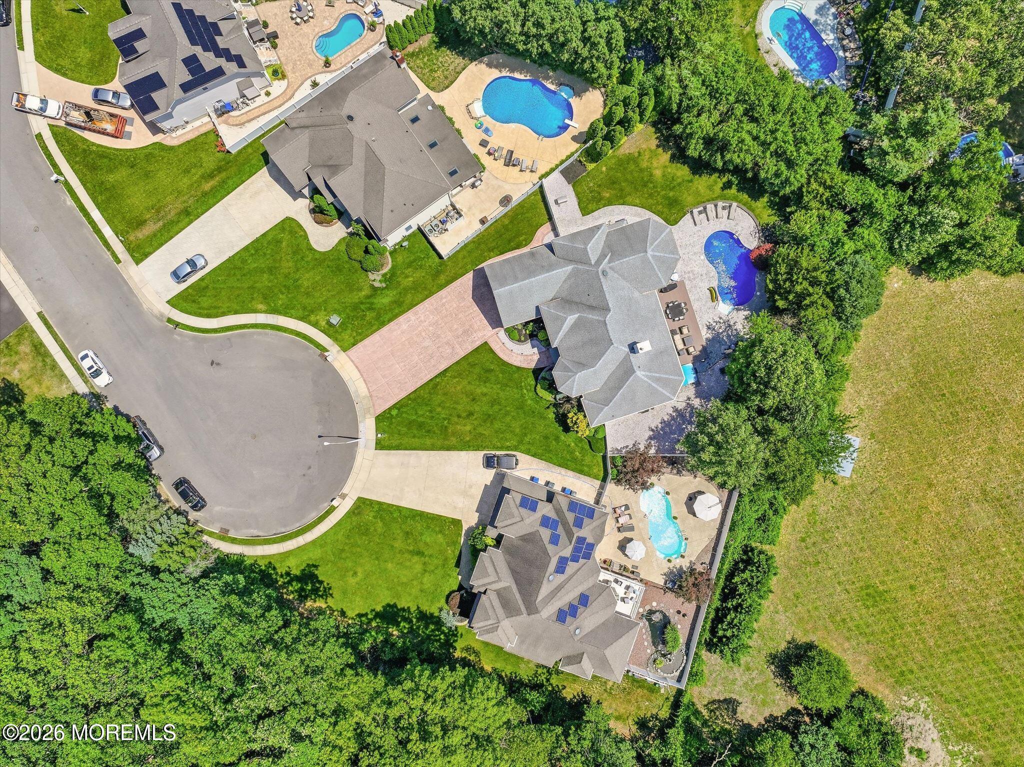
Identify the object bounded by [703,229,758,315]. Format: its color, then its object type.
blue swimming pool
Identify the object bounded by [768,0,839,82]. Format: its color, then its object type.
blue swimming pool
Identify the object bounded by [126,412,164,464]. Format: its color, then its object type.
gray truck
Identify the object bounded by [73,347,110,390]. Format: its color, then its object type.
white car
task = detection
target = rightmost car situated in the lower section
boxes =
[482,453,520,471]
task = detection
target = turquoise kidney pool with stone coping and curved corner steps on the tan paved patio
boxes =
[312,10,368,59]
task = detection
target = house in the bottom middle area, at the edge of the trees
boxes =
[469,472,642,684]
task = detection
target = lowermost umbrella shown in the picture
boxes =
[625,540,646,561]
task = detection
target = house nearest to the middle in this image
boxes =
[484,217,685,428]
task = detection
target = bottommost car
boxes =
[167,475,205,515]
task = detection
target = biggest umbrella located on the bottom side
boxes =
[693,493,728,521]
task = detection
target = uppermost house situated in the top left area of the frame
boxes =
[108,0,276,133]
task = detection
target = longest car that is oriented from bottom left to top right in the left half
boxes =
[164,252,207,284]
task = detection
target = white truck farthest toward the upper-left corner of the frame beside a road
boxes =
[4,87,60,117]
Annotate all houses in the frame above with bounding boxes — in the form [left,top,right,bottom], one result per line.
[261,42,483,246]
[469,472,642,684]
[484,217,685,428]
[108,0,276,133]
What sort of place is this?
residential area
